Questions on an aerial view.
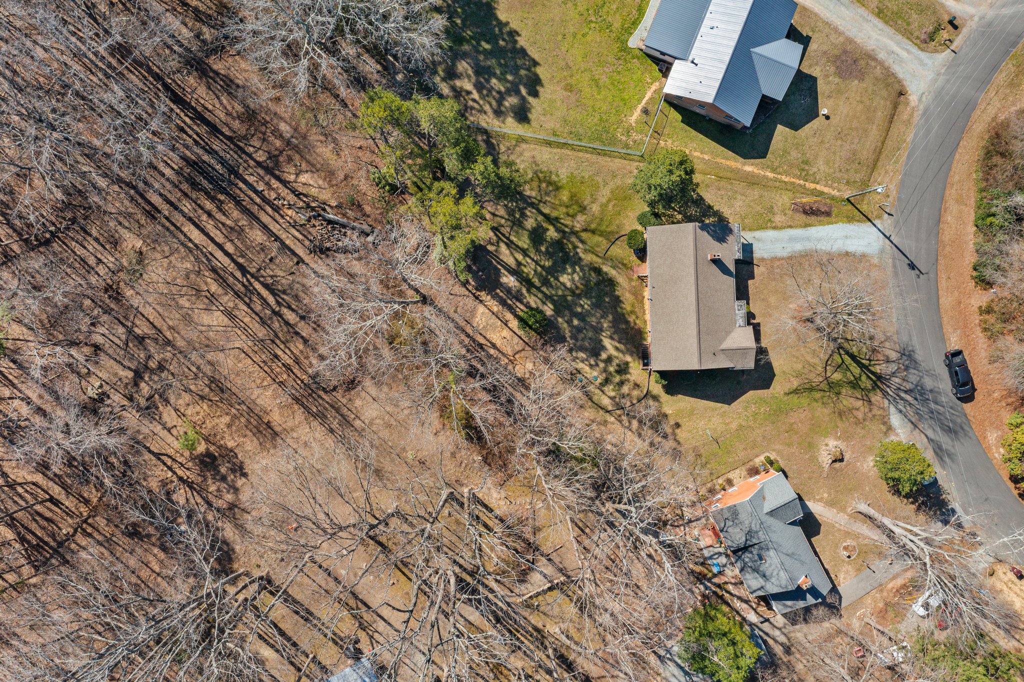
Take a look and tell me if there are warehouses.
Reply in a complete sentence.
No, I can't see a single warehouse in this photo.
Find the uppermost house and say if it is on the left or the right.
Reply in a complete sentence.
The uppermost house is on the right side of the image.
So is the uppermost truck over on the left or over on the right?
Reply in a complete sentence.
It is on the right.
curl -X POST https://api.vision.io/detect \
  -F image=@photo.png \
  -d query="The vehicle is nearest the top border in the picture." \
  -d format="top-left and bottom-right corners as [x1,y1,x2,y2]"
[940,347,972,399]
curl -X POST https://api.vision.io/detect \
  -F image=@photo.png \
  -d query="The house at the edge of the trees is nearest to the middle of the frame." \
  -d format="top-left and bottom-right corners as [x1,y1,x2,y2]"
[643,223,756,371]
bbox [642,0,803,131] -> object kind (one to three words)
house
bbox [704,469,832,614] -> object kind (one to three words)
house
